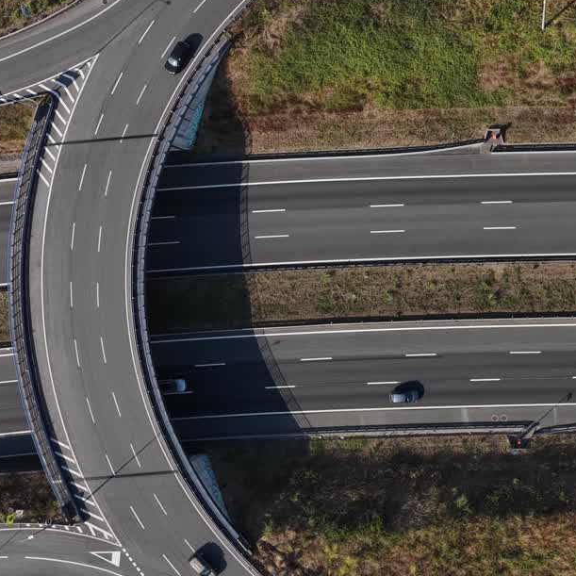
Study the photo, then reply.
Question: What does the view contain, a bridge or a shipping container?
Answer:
bridge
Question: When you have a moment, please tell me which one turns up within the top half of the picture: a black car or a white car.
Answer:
black car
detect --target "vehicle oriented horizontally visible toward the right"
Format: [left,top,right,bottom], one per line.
[390,390,422,404]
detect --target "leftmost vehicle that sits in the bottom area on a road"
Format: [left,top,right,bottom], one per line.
[161,378,188,392]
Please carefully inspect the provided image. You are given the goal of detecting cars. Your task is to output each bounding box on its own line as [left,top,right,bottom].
[390,390,422,404]
[161,378,188,392]
[188,554,217,576]
[166,40,192,72]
